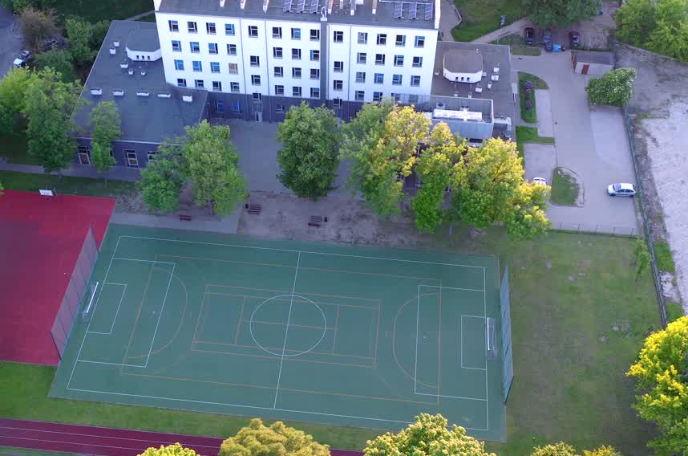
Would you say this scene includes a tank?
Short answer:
No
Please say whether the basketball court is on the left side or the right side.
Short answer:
left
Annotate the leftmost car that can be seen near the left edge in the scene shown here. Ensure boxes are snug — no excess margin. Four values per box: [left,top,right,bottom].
[12,46,36,62]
